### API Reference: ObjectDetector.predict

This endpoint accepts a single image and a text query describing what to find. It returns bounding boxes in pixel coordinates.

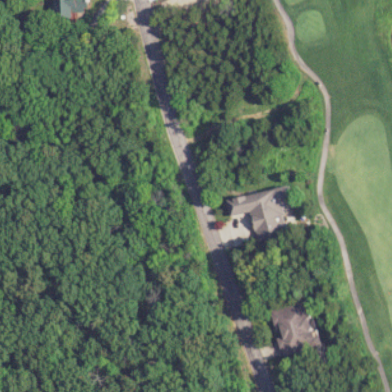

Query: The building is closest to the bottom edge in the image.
[272,306,324,358]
